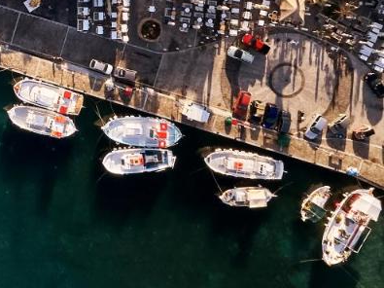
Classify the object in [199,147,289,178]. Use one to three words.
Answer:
boat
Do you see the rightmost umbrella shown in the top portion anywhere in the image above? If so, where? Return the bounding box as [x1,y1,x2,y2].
[276,0,304,23]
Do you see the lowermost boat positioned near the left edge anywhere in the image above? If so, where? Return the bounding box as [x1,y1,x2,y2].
[6,106,79,134]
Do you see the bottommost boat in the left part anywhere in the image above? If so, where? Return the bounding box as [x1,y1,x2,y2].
[97,149,180,179]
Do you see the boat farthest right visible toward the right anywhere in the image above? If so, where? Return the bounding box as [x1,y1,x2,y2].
[316,178,384,267]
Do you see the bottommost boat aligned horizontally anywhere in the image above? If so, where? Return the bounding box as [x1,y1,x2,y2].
[211,170,287,208]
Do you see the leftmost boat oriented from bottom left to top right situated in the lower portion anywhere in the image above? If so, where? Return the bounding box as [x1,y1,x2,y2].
[297,185,328,223]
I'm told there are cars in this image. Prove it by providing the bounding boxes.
[303,112,328,141]
[327,112,351,138]
[276,110,292,134]
[259,102,280,130]
[230,89,250,121]
[88,58,114,77]
[224,45,255,64]
[239,33,272,56]
[113,65,139,81]
[246,98,264,127]
[360,71,384,101]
